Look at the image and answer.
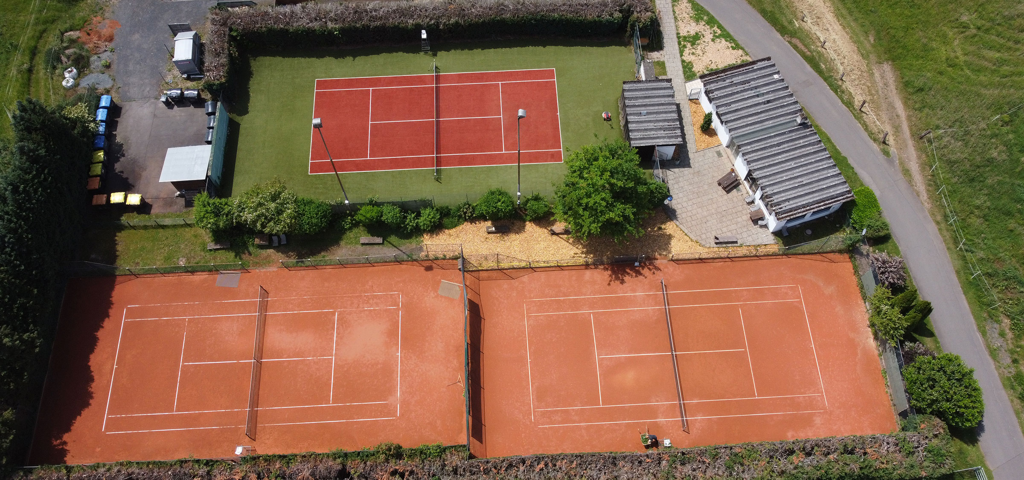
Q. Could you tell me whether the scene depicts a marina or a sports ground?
sports ground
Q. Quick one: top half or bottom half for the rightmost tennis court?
bottom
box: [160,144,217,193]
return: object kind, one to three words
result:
shed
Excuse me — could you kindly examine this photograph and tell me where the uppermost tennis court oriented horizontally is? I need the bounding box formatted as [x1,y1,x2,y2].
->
[223,30,662,210]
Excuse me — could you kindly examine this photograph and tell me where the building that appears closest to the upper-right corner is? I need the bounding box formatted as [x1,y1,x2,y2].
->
[701,57,853,232]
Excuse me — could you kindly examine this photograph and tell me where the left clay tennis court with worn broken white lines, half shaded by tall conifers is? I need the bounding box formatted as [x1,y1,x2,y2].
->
[14,260,469,480]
